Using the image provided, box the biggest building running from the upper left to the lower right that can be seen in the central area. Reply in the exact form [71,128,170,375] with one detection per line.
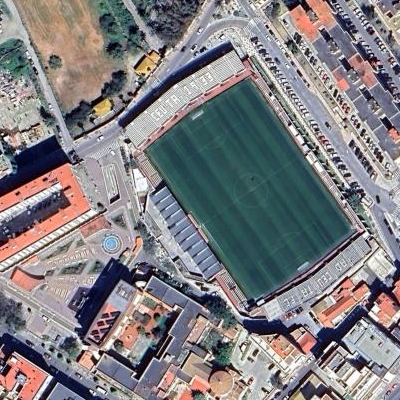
[145,198,205,286]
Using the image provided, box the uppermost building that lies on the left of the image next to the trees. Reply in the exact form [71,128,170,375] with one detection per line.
[134,50,161,77]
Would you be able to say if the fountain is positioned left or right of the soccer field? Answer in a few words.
to its left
